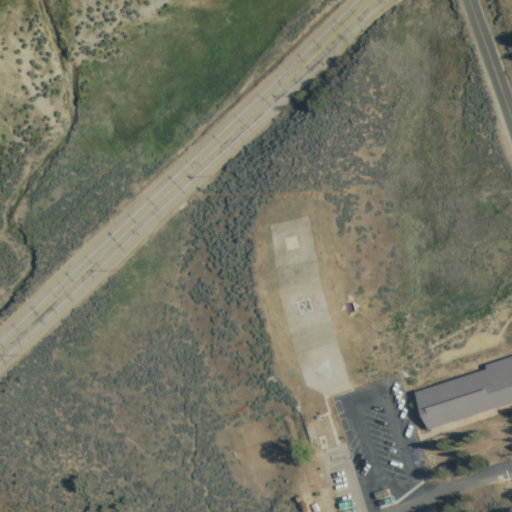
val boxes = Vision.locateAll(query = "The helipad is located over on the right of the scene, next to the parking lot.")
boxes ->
[271,217,352,397]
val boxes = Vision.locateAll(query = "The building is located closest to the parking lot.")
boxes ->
[416,356,512,430]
